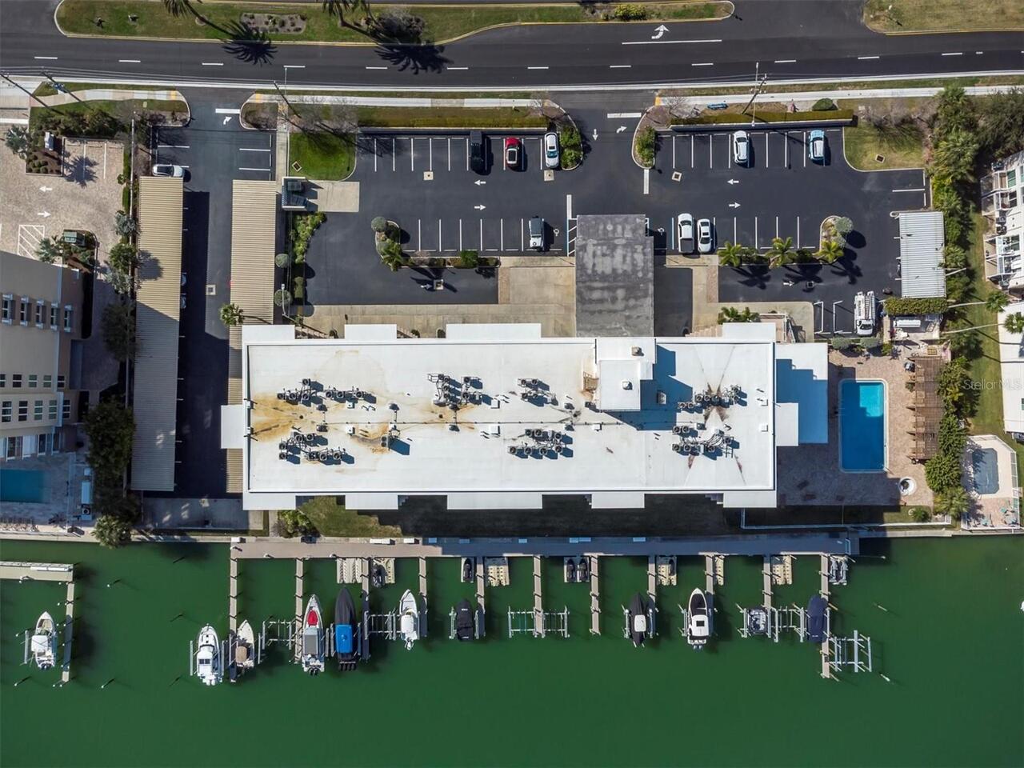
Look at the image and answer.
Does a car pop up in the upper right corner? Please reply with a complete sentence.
Yes, the scene does show a car in the upper right corner.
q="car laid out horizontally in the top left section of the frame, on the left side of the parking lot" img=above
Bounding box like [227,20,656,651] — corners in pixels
[153,163,188,178]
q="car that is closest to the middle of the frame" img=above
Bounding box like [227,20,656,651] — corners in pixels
[529,215,544,249]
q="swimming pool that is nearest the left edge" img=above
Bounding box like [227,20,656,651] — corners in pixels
[0,468,44,503]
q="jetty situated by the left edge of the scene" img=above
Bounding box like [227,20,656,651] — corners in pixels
[0,562,75,682]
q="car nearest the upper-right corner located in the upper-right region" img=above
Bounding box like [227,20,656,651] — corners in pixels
[808,133,825,163]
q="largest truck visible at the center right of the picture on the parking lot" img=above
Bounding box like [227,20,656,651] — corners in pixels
[853,289,877,335]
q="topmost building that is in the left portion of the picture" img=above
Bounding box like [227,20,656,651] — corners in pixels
[282,177,309,213]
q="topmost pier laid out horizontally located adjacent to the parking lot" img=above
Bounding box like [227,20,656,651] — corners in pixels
[231,535,859,559]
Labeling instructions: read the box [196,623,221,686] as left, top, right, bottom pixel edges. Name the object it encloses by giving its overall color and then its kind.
white boat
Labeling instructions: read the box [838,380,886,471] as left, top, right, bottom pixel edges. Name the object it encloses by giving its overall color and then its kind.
blue swimming pool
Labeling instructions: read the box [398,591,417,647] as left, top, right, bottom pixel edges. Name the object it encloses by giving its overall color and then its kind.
white boat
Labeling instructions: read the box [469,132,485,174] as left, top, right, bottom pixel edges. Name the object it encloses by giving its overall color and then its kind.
black vehicle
